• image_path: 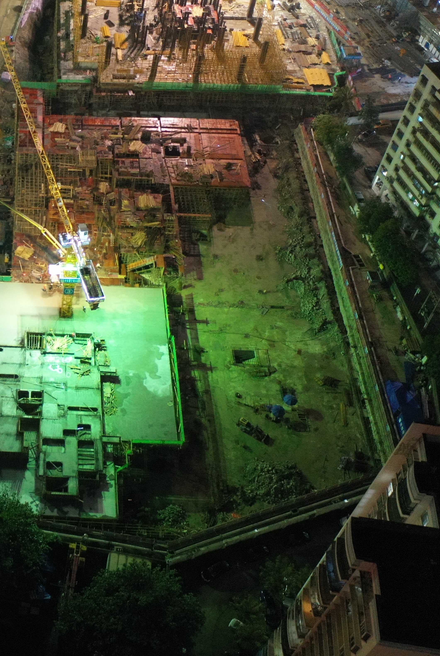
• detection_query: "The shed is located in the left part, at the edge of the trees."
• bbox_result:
[106,552,151,582]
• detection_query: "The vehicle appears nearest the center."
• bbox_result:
[239,412,282,453]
